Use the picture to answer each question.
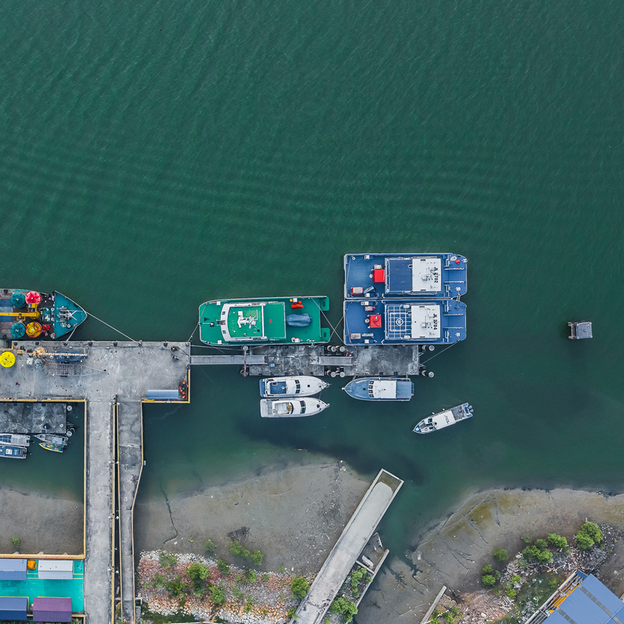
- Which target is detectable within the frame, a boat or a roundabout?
boat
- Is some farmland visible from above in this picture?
No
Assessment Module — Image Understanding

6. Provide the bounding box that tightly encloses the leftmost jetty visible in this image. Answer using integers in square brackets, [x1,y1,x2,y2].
[0,403,75,436]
